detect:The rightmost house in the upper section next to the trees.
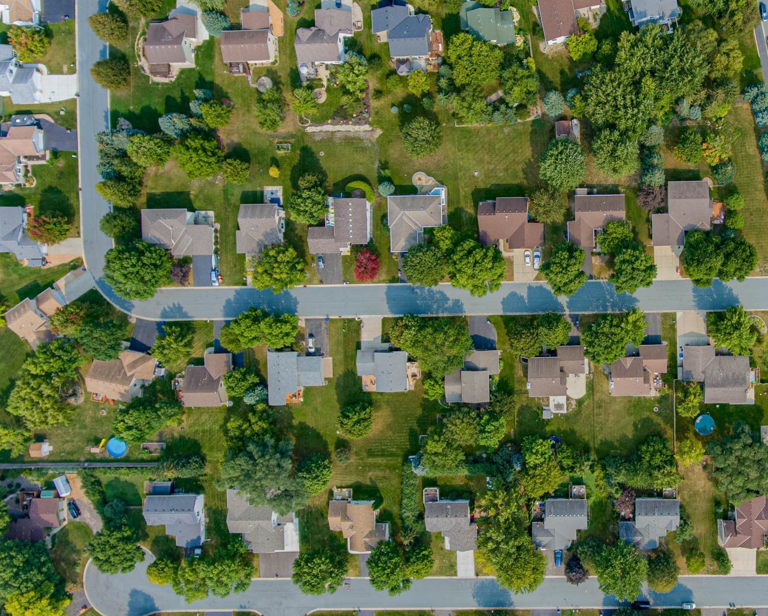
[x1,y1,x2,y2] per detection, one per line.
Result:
[652,181,725,246]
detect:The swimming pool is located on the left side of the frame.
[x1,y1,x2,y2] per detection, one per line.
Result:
[107,435,129,458]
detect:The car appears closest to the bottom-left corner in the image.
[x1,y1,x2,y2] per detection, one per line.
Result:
[68,499,81,519]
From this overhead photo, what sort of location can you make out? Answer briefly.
residential area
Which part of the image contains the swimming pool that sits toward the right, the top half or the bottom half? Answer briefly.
bottom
